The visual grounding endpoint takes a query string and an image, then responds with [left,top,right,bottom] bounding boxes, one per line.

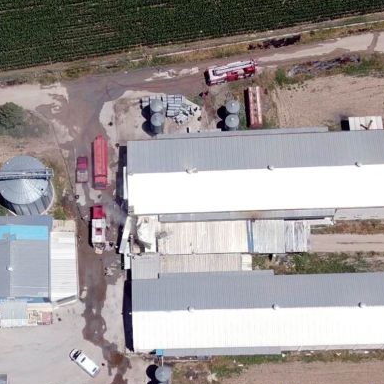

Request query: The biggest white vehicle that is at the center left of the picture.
[90,204,107,245]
